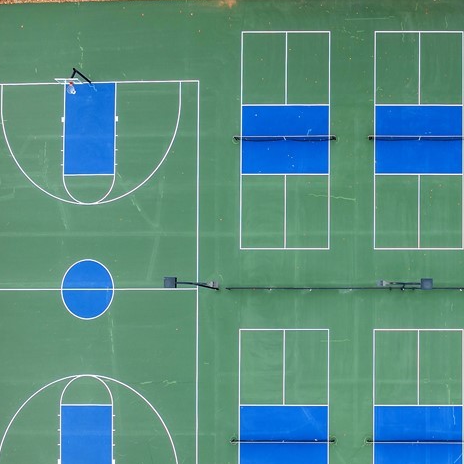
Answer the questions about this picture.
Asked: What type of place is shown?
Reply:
sports ground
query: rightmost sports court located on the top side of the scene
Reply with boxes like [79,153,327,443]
[374,31,464,249]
